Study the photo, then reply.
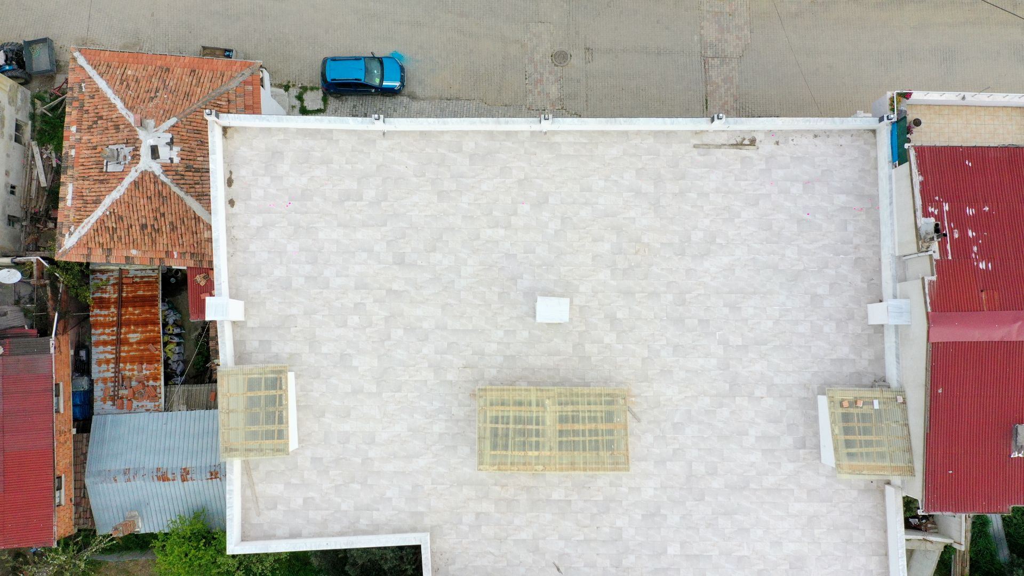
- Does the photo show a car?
Yes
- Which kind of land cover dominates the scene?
buildings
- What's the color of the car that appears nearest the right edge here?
blue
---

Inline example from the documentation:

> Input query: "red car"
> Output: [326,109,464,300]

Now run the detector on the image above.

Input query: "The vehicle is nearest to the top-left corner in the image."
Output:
[0,38,35,88]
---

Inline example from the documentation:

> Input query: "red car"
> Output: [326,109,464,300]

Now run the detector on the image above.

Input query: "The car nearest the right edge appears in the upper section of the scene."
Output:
[319,50,406,99]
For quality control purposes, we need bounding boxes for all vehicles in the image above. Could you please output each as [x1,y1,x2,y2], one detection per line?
[319,50,406,99]
[0,38,35,88]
